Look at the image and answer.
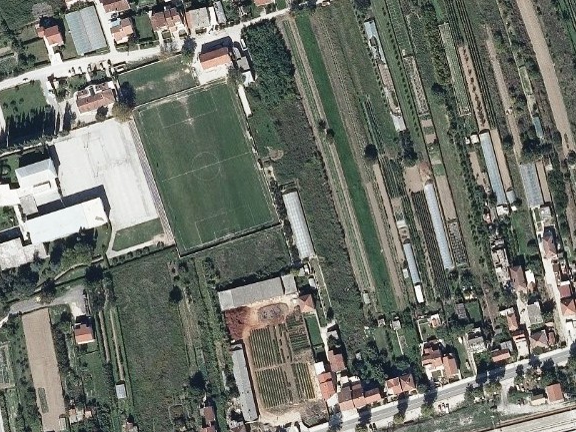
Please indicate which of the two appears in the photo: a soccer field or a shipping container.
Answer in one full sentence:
There is a soccer field in the scene.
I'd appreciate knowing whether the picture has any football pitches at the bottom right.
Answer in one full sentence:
No, at the bottom right there is no football pitch.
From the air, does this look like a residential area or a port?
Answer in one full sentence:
The area seen from above is a residential area.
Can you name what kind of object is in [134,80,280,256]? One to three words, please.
soccer field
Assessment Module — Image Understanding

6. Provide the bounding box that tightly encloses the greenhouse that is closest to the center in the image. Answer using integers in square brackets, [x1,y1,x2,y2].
[283,191,314,259]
